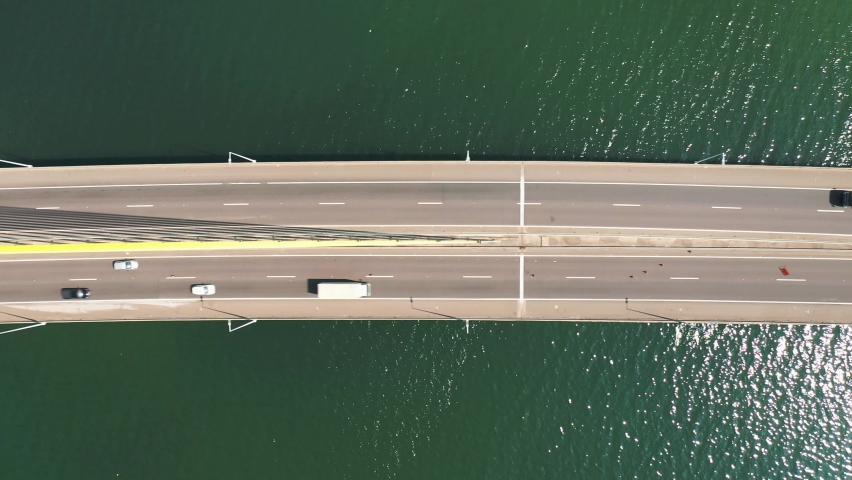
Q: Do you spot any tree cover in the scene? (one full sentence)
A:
No, no tree cover is visible.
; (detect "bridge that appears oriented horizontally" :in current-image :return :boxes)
[0,161,852,324]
